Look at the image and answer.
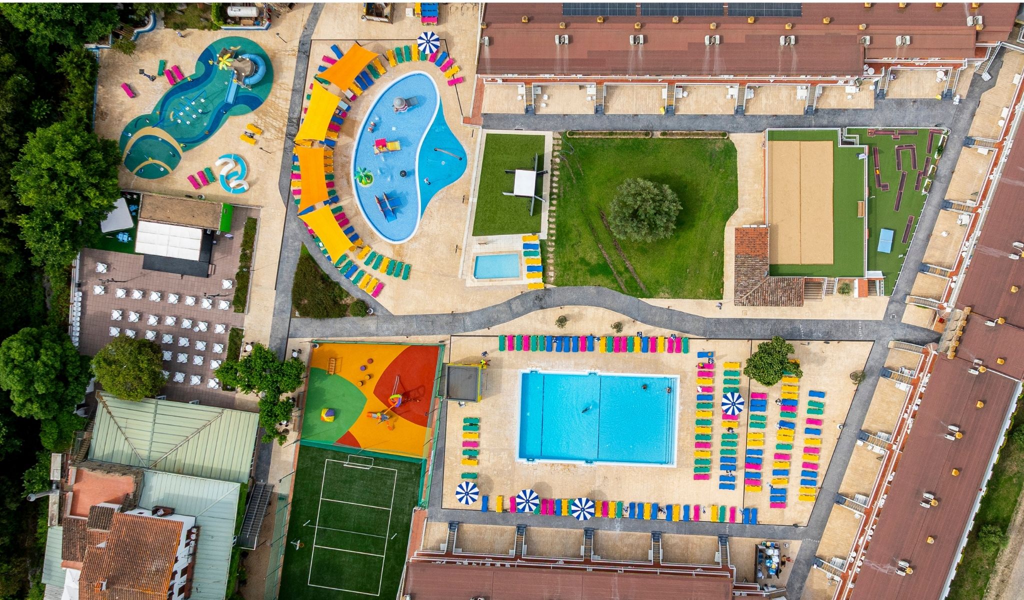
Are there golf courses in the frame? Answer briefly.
Yes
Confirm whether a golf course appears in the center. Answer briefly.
No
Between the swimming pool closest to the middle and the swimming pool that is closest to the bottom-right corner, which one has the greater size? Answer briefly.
the swimming pool that is closest to the bottom-right corner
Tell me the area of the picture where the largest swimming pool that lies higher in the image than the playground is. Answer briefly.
top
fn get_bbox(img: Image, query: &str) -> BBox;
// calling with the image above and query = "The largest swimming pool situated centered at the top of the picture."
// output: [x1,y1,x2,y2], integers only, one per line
[351,70,468,244]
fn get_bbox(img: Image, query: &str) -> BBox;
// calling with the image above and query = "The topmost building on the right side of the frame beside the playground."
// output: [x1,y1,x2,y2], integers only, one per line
[462,0,1021,278]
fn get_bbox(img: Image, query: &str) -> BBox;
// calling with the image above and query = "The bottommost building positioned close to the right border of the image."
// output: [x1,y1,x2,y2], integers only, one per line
[814,339,1024,600]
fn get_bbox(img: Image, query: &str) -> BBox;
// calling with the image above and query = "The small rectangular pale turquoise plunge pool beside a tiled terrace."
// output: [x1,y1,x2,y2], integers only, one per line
[472,251,523,282]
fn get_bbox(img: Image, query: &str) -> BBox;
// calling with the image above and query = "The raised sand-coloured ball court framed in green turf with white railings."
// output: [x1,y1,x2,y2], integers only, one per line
[763,129,867,278]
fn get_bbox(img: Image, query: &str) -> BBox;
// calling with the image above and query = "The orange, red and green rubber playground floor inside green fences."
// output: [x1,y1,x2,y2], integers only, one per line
[298,342,443,459]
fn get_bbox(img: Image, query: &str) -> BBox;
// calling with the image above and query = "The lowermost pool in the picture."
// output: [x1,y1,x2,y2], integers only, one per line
[515,367,680,468]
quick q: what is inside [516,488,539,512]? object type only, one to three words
umbrella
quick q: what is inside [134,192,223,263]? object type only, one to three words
building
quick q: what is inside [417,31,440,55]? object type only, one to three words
umbrella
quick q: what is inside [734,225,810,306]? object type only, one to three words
building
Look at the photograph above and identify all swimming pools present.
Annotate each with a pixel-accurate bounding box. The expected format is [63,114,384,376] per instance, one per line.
[515,367,680,468]
[351,70,468,244]
[472,251,523,282]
